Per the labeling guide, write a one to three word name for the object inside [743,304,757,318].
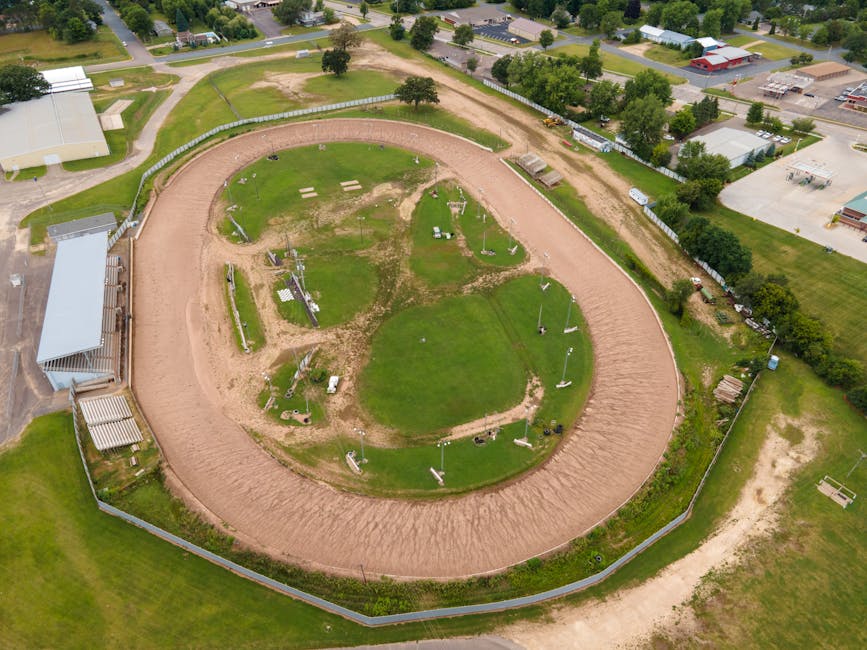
car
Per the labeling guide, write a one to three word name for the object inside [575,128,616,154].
shed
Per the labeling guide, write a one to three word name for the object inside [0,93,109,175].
building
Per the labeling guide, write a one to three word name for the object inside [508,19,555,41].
building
